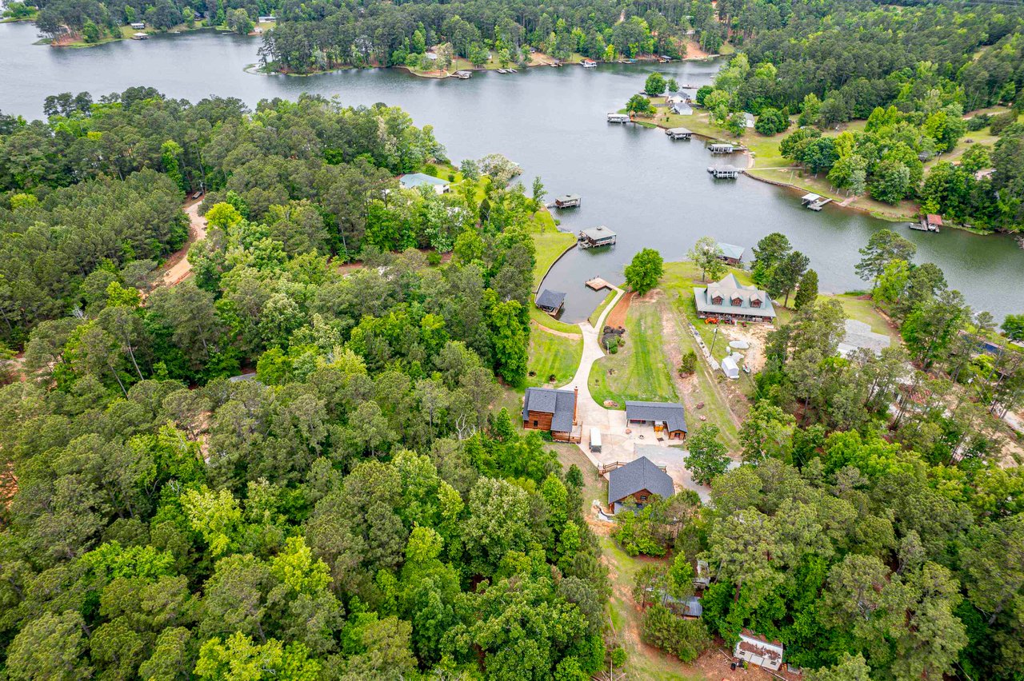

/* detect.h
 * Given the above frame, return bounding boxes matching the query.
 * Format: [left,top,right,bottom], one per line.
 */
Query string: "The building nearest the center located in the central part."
[537,293,570,321]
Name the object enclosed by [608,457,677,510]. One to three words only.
building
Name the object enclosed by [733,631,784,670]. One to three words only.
vehicle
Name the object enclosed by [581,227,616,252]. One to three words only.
building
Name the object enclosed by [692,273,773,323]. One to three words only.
house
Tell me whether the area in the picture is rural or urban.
rural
